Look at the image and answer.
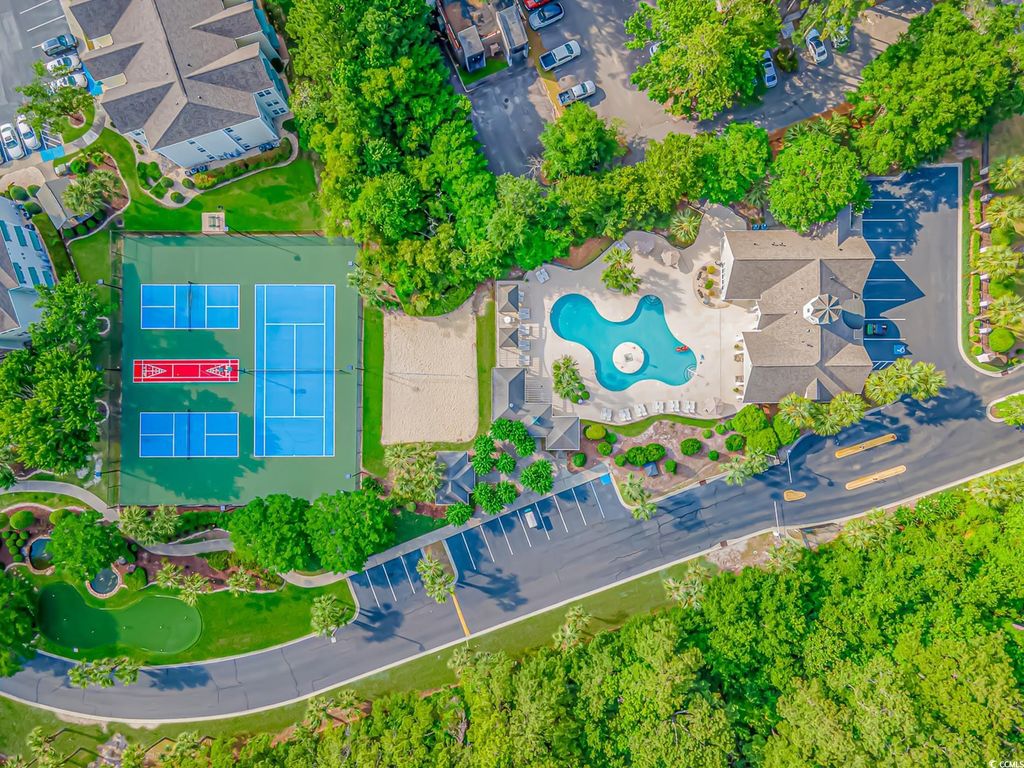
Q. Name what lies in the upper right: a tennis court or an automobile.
automobile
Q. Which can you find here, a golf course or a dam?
golf course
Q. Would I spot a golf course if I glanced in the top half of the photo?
No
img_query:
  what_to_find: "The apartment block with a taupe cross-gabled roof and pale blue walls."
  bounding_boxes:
[69,0,286,166]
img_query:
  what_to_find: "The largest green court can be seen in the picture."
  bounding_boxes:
[119,234,357,505]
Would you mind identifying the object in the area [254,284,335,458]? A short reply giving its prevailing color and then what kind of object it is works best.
blue tennis court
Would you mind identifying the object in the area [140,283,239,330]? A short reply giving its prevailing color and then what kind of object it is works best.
blue sports court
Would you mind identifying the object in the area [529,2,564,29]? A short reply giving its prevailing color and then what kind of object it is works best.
blue car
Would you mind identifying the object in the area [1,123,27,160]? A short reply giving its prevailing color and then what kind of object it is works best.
white car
